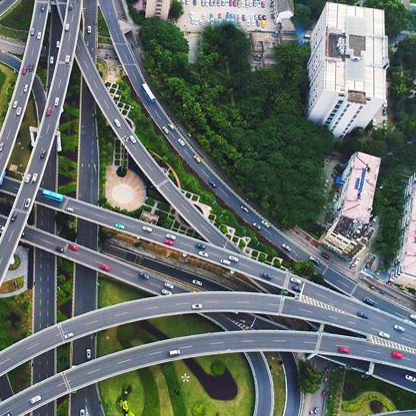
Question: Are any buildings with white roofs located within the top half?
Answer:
Yes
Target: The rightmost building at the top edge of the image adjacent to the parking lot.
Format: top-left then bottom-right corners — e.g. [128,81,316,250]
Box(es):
[307,0,391,130]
